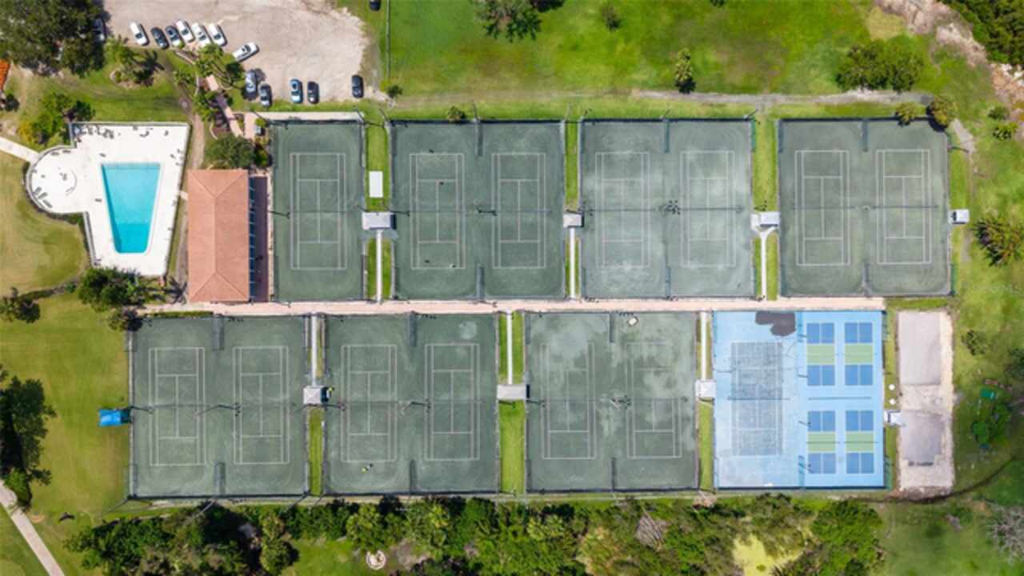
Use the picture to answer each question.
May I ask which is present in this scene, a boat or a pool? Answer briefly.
pool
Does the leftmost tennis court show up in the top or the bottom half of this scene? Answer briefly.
bottom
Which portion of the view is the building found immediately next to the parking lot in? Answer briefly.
left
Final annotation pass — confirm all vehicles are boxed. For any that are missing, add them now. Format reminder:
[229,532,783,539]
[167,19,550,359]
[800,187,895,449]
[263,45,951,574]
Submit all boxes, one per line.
[175,20,194,44]
[307,81,318,104]
[151,27,170,50]
[164,25,182,47]
[290,79,302,103]
[369,0,380,12]
[129,21,149,46]
[234,42,258,61]
[351,74,362,98]
[207,23,225,46]
[260,84,272,107]
[191,23,209,47]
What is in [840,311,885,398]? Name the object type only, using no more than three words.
sports court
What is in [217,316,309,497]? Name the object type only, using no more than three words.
tennis court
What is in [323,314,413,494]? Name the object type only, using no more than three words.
tennis court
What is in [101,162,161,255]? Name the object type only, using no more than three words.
swimming pool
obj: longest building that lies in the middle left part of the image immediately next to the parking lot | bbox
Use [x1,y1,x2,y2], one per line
[187,169,257,303]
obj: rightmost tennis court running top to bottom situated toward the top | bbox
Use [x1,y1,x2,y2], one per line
[864,118,951,296]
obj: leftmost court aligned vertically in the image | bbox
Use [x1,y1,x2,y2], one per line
[130,316,219,497]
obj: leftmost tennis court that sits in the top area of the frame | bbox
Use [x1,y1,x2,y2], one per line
[273,120,363,301]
